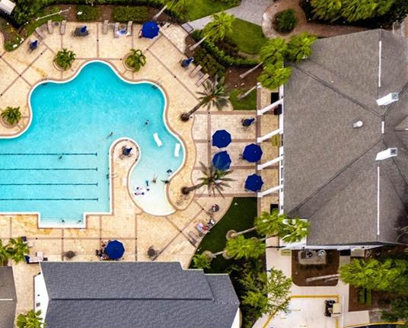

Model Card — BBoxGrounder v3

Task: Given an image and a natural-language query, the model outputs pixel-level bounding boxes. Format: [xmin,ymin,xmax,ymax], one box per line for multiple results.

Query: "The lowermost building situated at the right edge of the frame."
[257,29,408,248]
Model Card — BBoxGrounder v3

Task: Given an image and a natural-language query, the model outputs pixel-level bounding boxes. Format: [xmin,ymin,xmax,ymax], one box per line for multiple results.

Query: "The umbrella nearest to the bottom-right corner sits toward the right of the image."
[243,174,263,193]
